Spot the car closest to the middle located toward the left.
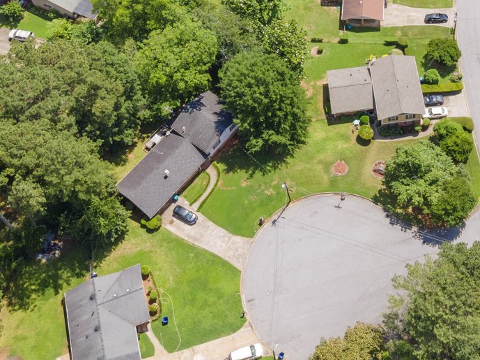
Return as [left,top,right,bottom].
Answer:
[170,201,200,227]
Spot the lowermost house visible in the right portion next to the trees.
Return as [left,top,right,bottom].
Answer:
[323,55,431,135]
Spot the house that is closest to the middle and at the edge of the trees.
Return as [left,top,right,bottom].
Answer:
[113,99,239,219]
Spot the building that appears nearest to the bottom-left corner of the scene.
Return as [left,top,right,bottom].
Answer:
[64,262,150,360]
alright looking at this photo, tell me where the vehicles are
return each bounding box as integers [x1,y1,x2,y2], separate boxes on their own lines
[222,340,267,360]
[9,29,36,41]
[426,107,448,120]
[424,13,448,24]
[426,94,446,106]
[170,201,200,227]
